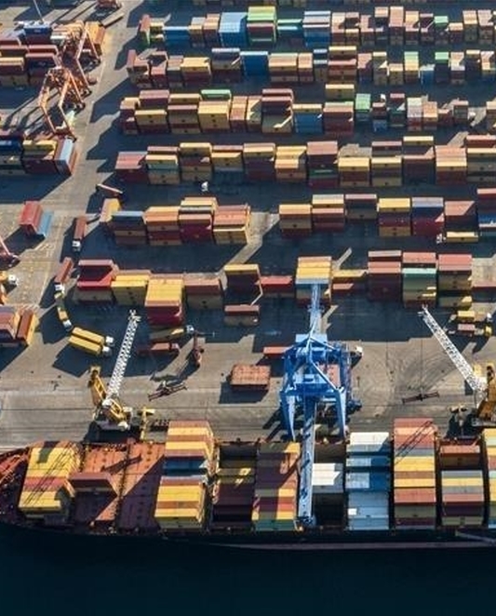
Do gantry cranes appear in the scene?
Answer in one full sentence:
Yes, I can see a gantry crane in this picture.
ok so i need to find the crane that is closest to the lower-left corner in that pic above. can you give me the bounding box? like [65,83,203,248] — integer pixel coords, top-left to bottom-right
[86,310,149,444]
